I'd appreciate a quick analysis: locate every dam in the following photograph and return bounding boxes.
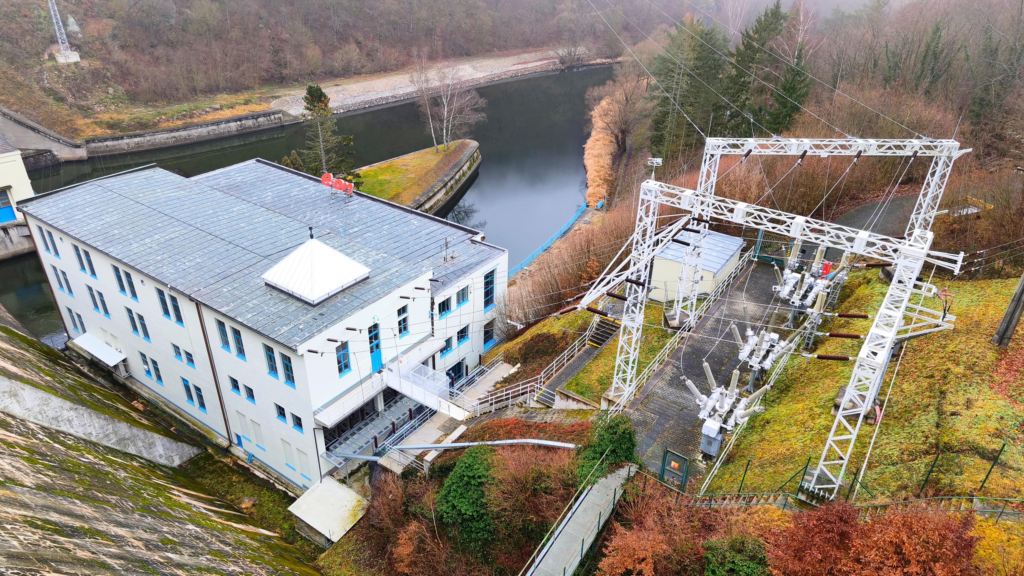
[0,304,326,576]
